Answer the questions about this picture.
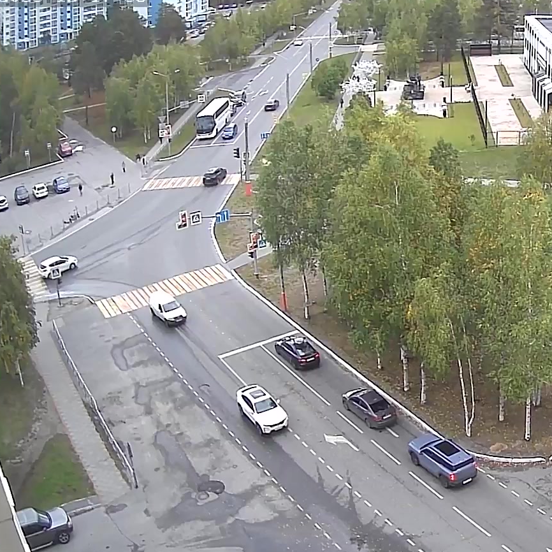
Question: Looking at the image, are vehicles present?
Yes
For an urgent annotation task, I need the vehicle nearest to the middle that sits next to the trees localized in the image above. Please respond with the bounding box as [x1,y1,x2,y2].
[275,335,321,370]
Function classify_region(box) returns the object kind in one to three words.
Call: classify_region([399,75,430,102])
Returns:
vehicle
